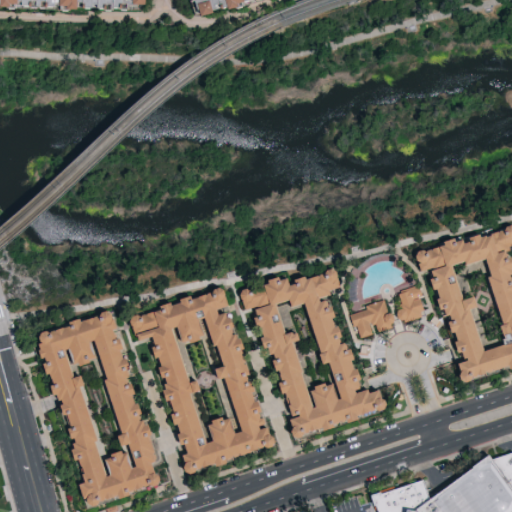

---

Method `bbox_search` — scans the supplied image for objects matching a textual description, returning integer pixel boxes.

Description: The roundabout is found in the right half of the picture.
[386,332,430,376]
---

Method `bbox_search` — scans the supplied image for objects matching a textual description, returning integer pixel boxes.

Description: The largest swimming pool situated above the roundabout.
[349,253,416,312]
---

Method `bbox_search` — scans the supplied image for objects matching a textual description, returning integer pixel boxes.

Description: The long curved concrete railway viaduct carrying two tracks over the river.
[0,0,370,247]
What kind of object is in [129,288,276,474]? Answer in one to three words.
building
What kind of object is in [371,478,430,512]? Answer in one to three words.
building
